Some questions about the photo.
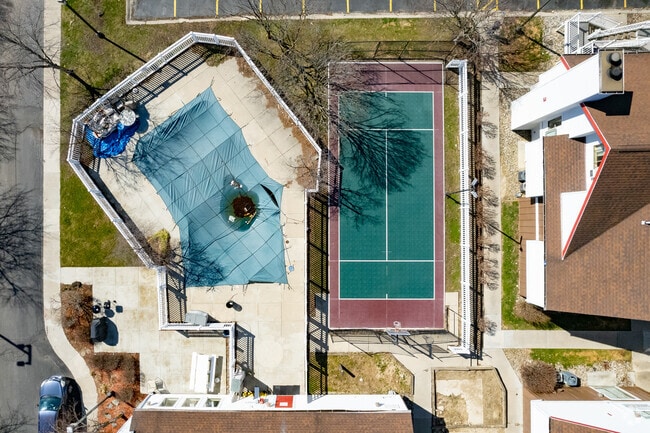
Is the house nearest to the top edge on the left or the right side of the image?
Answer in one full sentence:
The house nearest to the top edge appears in the right half of the scene.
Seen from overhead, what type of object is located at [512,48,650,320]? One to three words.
house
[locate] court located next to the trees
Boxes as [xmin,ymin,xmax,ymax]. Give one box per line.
[329,61,445,330]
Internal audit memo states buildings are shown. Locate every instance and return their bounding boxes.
[512,48,650,320]
[523,384,650,433]
[110,392,414,433]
